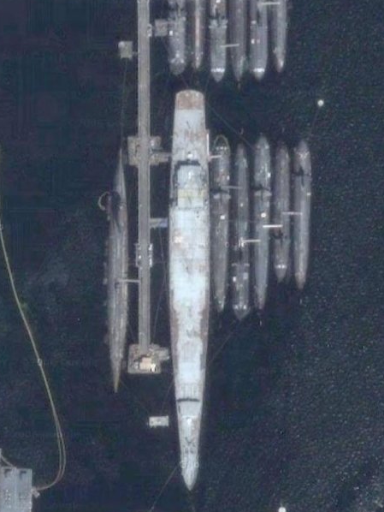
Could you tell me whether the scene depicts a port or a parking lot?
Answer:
port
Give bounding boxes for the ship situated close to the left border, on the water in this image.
[0,469,32,512]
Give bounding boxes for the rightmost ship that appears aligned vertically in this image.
[294,140,311,295]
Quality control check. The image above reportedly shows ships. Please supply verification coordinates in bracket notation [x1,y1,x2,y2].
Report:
[233,145,251,320]
[170,89,210,491]
[273,144,291,281]
[209,0,227,81]
[254,136,271,317]
[294,140,311,295]
[273,0,288,71]
[231,0,246,88]
[107,151,127,390]
[0,469,32,512]
[190,0,206,79]
[250,0,268,79]
[168,0,186,73]
[212,138,230,318]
